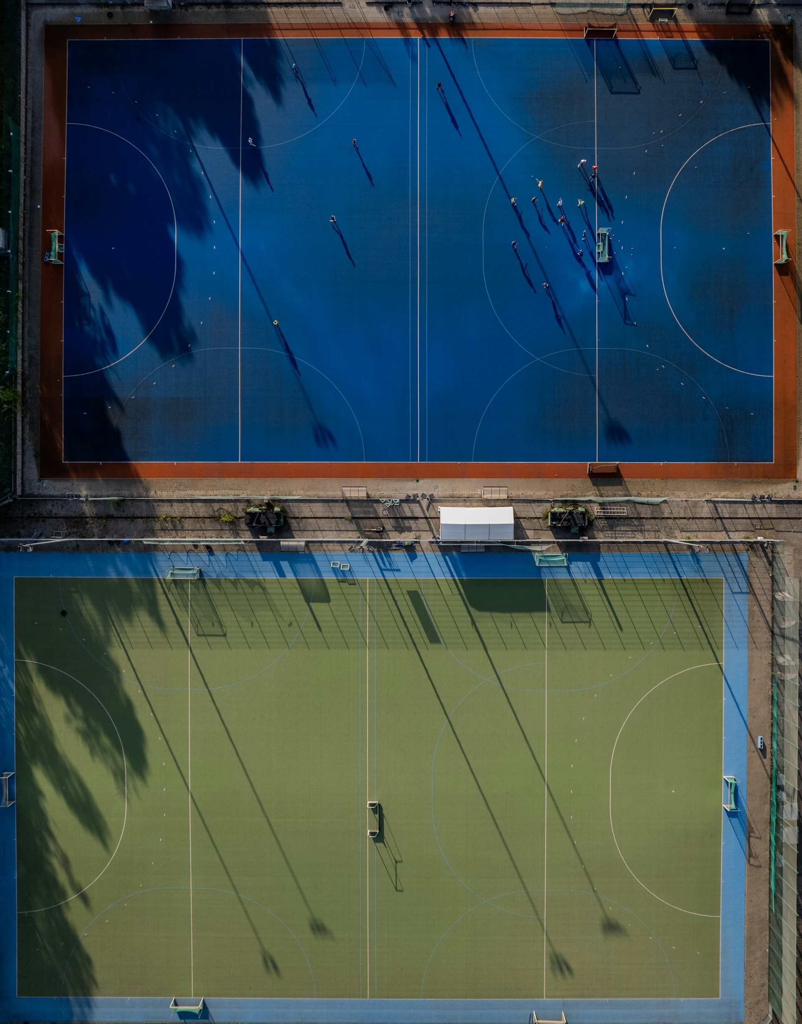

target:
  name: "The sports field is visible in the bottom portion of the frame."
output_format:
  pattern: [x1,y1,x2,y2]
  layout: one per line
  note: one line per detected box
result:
[13,575,726,1002]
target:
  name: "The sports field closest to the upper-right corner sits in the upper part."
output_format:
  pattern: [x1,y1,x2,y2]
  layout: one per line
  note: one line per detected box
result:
[61,37,776,465]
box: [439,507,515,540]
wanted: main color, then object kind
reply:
white tent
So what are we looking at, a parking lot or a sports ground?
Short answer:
sports ground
